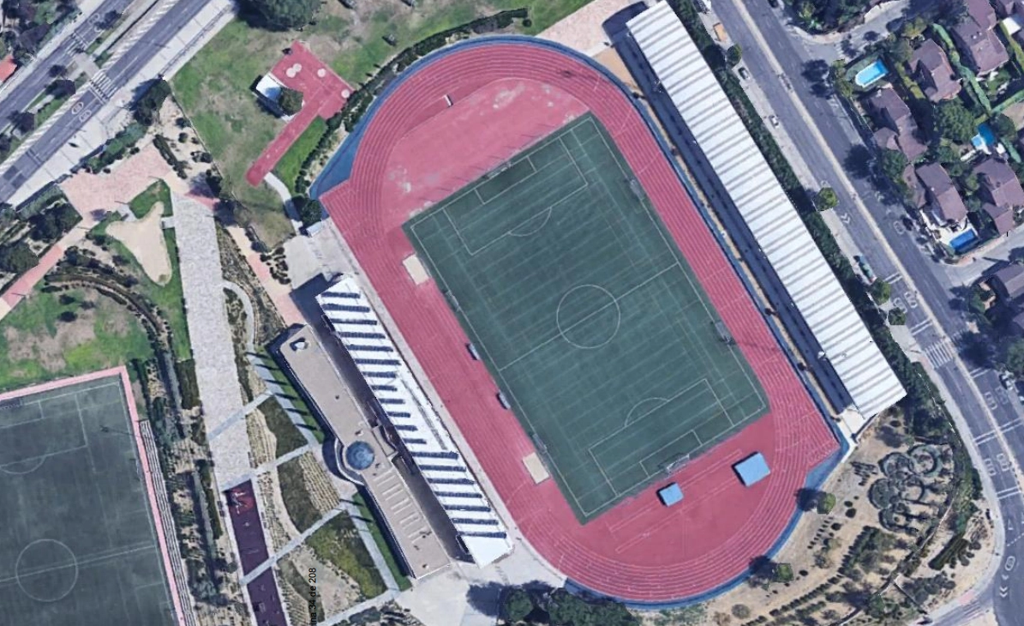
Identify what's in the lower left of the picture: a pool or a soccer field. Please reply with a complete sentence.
What appears in the lower left of the picture is a soccer field.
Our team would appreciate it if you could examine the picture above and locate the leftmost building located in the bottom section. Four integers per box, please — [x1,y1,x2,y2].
[280,325,450,577]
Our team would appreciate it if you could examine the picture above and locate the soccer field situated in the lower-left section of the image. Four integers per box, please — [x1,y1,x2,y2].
[0,366,183,626]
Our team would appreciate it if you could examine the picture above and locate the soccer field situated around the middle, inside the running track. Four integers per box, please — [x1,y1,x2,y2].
[401,111,770,524]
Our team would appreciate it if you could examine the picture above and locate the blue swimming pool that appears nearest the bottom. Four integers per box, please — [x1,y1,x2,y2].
[950,229,978,250]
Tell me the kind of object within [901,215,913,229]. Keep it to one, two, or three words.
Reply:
vehicle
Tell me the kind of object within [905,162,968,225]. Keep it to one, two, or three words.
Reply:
house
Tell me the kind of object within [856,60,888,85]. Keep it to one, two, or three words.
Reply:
swimming pool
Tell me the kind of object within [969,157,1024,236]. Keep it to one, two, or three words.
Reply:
house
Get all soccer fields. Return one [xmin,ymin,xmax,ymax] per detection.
[401,111,770,524]
[0,366,183,626]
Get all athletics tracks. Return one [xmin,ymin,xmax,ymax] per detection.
[310,34,849,610]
